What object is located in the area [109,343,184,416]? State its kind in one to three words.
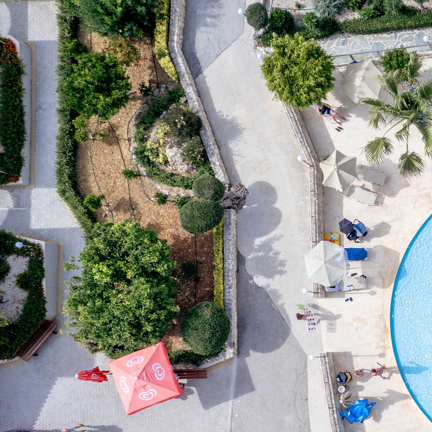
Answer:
umbrella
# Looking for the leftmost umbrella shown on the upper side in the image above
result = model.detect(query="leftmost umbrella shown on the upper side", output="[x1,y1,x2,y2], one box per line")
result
[317,149,359,190]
